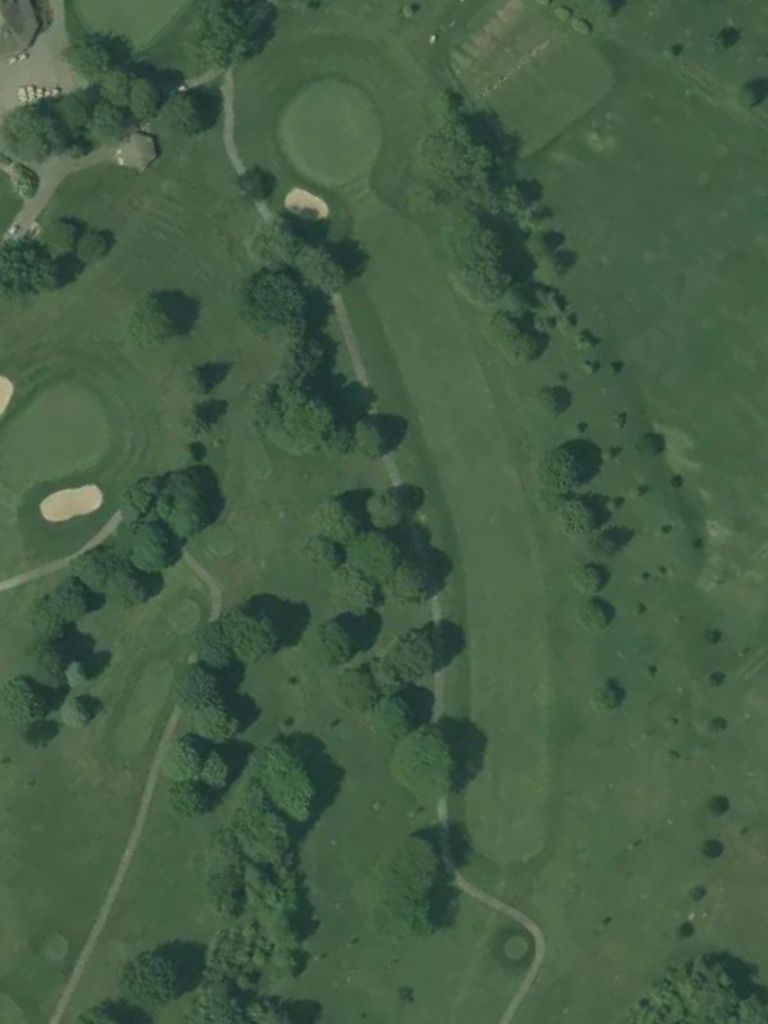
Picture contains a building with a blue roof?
No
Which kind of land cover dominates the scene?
grass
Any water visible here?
No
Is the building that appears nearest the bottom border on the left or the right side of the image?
left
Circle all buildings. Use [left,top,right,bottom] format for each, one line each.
[0,0,38,54]
[124,131,156,171]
